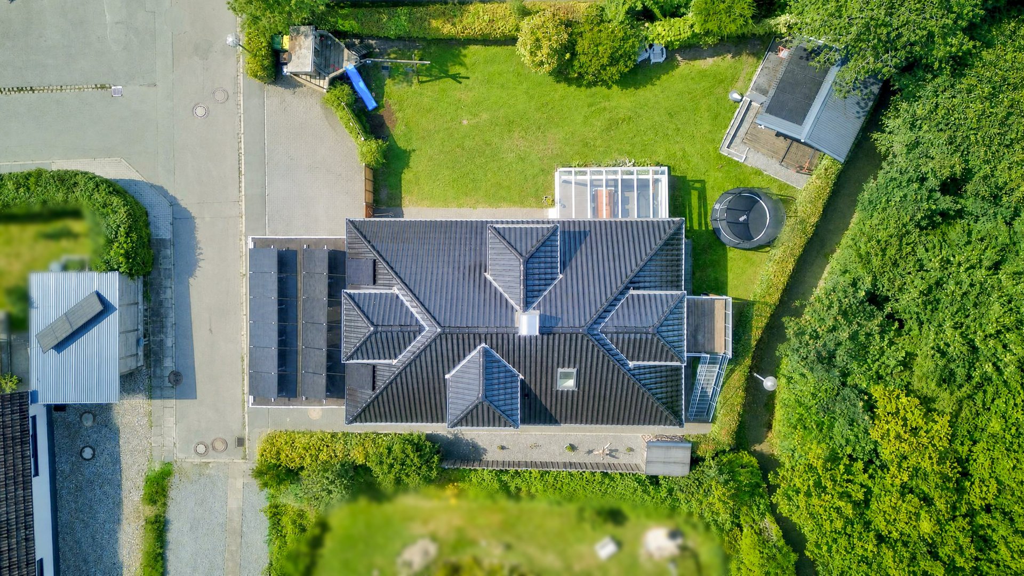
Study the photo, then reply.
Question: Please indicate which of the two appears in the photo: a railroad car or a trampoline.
trampoline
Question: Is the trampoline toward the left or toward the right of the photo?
right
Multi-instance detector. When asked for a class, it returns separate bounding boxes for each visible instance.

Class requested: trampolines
[709,185,784,249]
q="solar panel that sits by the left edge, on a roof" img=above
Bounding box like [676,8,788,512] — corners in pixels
[36,291,108,355]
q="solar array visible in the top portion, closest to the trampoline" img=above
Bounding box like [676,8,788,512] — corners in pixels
[769,48,826,127]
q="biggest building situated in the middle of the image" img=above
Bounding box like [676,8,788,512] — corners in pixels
[341,216,690,430]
